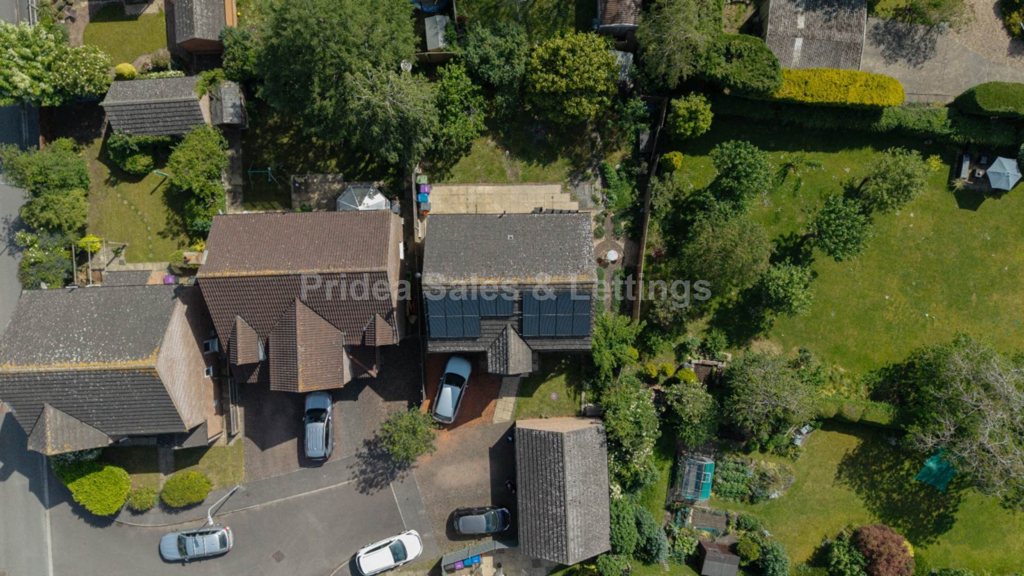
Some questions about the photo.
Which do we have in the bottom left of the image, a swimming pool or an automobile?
automobile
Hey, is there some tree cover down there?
Yes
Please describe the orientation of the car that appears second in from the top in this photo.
vertically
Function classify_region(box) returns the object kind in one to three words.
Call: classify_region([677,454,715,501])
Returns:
greenhouse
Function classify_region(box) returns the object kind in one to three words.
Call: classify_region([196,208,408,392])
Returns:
house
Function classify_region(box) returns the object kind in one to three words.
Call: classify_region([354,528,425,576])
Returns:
car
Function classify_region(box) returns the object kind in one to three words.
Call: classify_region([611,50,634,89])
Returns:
shed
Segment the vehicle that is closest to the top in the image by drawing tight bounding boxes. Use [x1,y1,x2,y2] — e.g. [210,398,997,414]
[431,354,471,424]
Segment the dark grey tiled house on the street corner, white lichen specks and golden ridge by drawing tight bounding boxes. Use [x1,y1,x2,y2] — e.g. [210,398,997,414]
[0,259,220,455]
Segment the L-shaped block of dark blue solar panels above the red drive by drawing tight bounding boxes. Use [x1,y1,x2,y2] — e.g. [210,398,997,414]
[426,295,513,337]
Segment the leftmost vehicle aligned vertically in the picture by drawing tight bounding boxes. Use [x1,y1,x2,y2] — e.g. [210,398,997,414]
[301,391,336,461]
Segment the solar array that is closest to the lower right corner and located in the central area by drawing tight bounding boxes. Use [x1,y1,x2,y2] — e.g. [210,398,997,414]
[523,294,592,336]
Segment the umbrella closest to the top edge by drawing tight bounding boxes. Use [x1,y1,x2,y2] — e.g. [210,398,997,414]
[979,157,1022,190]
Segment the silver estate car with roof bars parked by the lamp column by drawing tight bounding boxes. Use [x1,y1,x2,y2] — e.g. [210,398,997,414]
[161,523,235,562]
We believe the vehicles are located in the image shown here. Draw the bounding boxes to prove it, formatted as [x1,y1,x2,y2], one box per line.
[301,391,336,461]
[161,523,235,562]
[453,504,511,537]
[431,354,471,424]
[354,528,425,576]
